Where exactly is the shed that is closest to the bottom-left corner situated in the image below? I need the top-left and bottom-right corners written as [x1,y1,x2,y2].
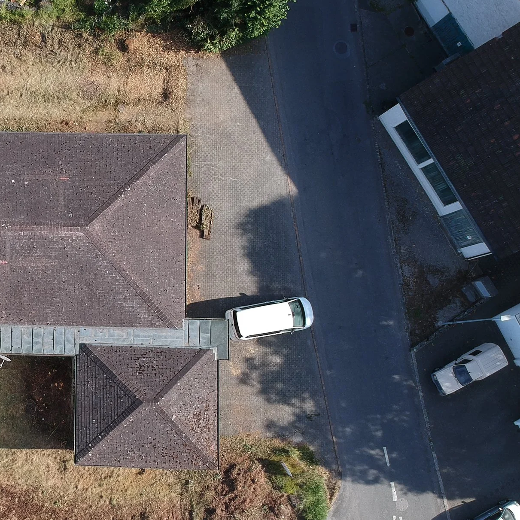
[56,343,251,482]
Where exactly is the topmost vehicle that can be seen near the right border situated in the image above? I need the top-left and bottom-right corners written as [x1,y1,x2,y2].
[422,341,514,402]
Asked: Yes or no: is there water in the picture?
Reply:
No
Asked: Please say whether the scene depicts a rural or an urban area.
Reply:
urban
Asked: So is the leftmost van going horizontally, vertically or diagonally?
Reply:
horizontally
